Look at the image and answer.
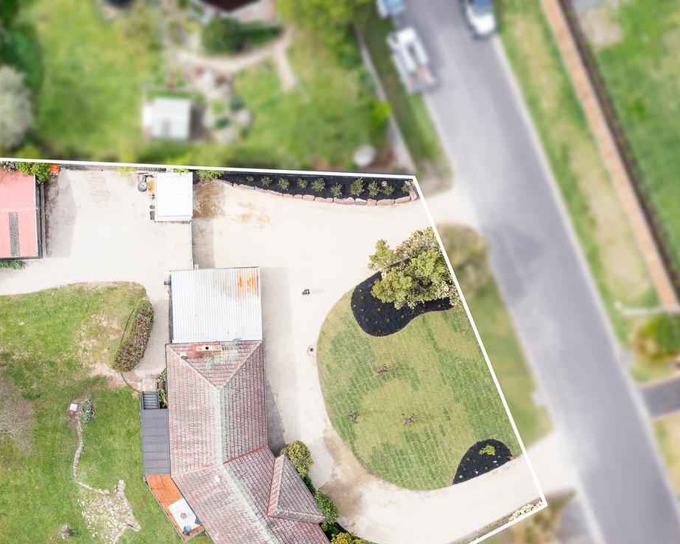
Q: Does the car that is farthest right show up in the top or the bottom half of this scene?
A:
top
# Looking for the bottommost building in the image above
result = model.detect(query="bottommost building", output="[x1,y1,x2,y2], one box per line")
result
[165,340,326,544]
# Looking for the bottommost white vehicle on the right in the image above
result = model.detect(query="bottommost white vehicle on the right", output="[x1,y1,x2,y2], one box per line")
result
[391,27,439,94]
